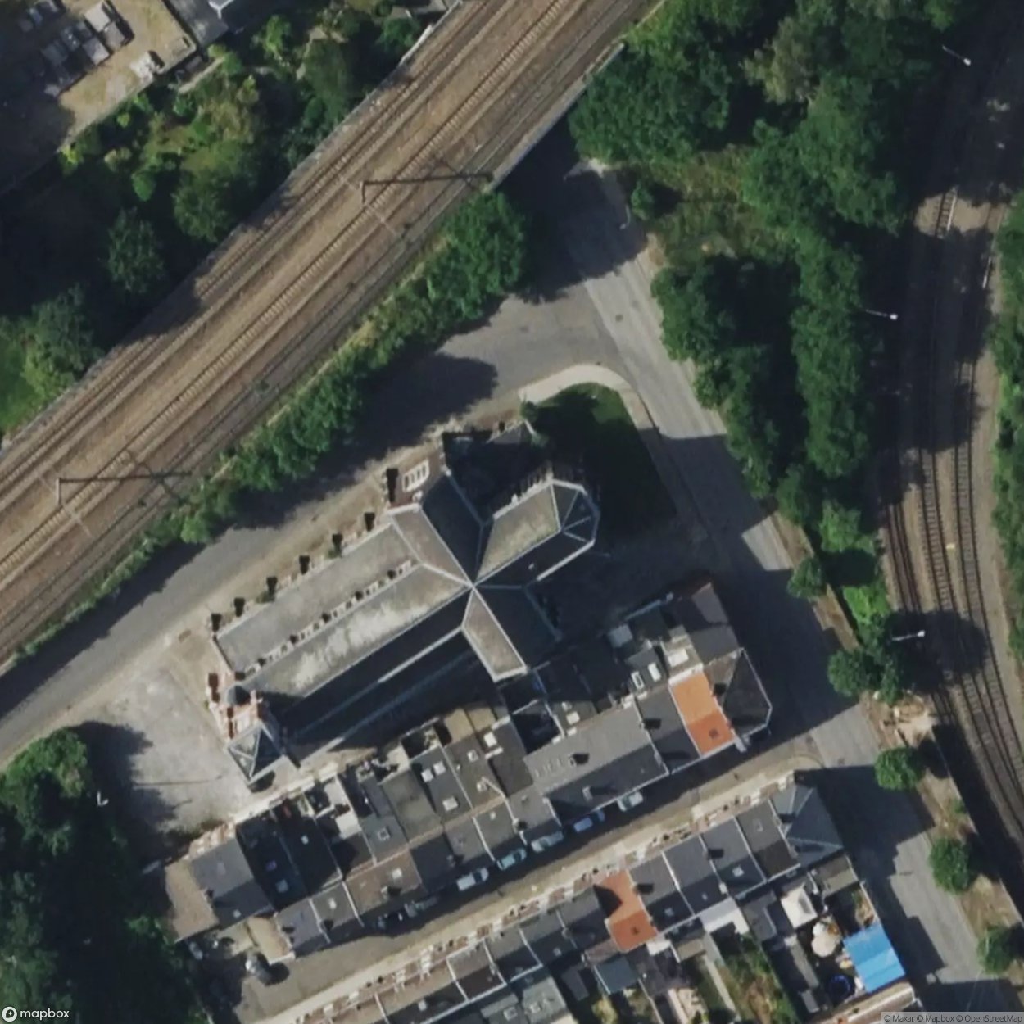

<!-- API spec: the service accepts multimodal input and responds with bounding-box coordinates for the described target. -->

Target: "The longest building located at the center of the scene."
[206,410,604,783]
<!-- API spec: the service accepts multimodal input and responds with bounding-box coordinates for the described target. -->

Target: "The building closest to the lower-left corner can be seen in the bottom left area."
[166,849,219,941]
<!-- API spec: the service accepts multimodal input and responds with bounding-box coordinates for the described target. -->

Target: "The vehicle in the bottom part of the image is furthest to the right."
[613,789,648,815]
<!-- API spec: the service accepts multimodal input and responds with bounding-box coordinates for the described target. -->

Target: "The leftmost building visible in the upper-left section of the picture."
[175,0,227,43]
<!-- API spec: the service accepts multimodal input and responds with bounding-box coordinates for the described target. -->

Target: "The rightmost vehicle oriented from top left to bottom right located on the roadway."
[244,949,274,985]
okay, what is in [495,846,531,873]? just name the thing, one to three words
car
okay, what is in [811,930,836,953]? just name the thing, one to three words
umbrella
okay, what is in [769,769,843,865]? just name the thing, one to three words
house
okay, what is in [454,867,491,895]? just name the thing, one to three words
car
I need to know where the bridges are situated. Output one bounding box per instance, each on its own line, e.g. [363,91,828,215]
[494,40,634,195]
